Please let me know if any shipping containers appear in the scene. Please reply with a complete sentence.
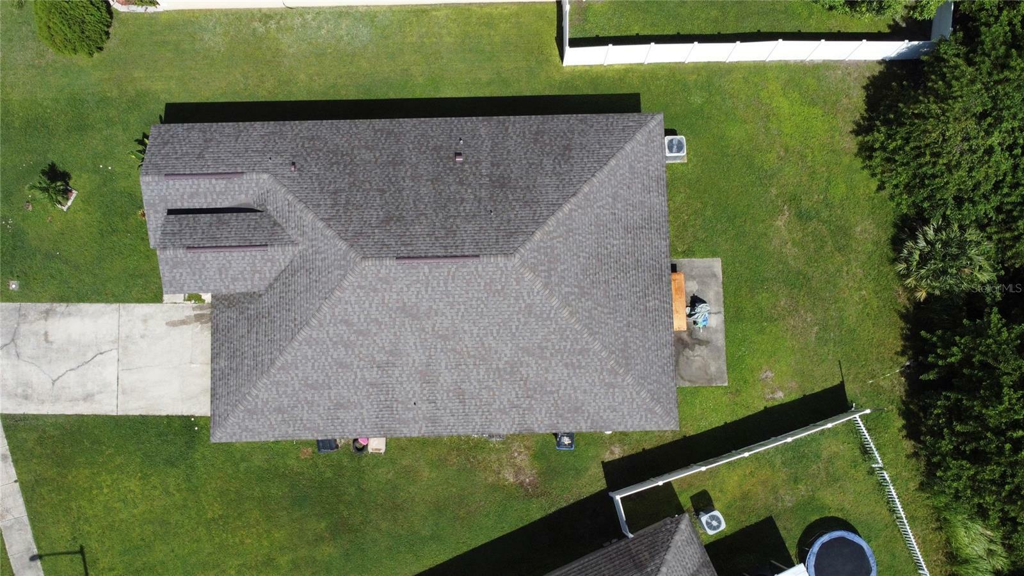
No, I can see no shipping container in this picture.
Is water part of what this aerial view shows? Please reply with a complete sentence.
No, there is no water in the image.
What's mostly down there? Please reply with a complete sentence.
What you mostly see from above here is grass.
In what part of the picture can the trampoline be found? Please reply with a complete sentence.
The trampoline appears toward the bottom right of the photo.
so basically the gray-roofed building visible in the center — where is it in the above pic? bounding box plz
[139,114,678,442]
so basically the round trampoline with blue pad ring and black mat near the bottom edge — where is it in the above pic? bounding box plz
[806,529,877,576]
